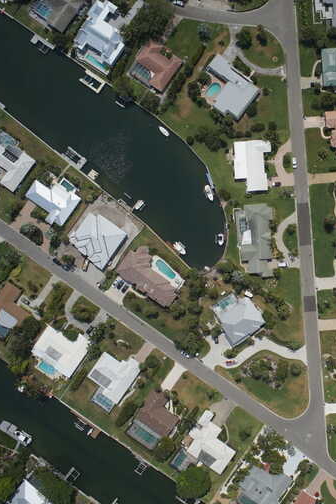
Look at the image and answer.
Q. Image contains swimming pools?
Yes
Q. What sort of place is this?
residential area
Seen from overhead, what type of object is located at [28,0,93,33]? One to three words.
house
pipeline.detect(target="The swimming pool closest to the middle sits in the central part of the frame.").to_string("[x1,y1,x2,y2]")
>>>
[155,256,177,280]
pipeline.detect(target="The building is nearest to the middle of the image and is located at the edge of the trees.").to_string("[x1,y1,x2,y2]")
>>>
[115,248,177,307]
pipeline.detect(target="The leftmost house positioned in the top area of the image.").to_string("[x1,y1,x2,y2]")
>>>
[0,132,36,192]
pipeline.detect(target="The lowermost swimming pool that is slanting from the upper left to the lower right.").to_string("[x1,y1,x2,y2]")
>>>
[133,424,159,447]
